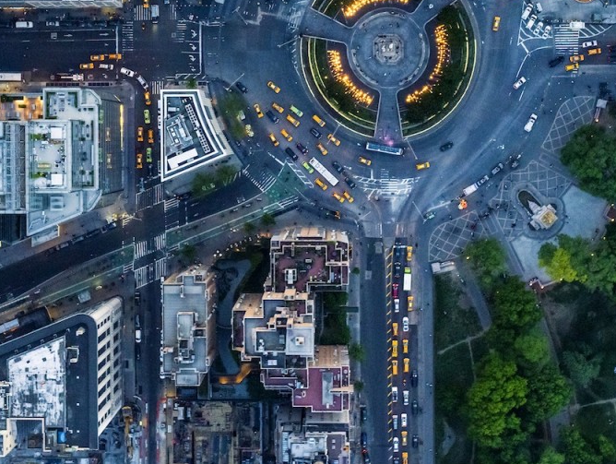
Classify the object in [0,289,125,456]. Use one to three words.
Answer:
building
